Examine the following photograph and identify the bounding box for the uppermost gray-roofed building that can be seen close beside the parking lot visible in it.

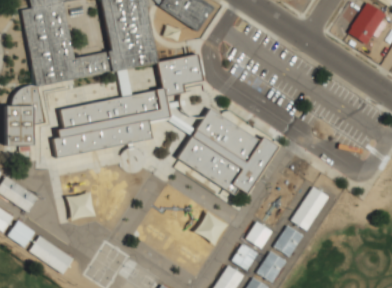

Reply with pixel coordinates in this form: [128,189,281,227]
[162,0,214,30]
